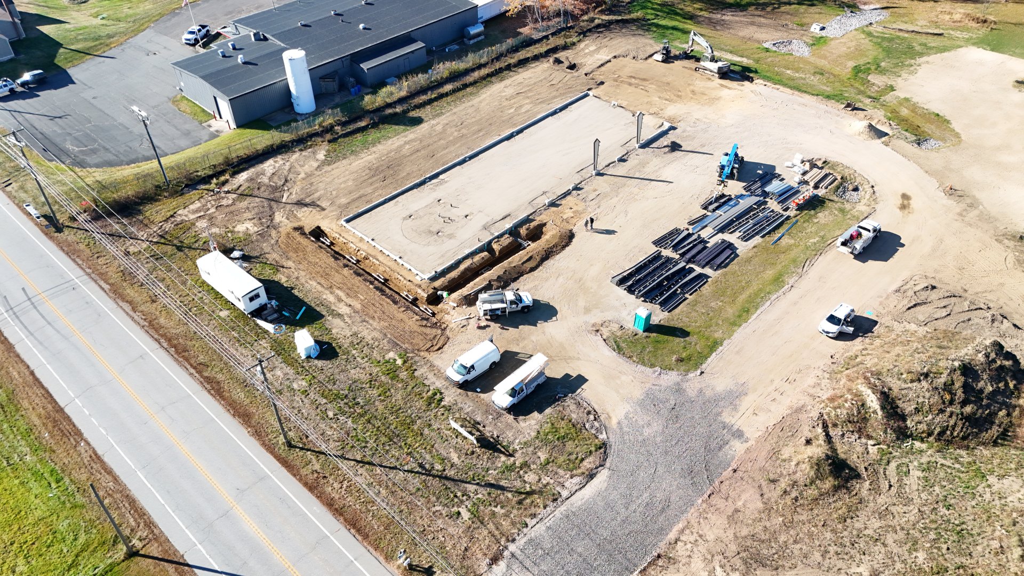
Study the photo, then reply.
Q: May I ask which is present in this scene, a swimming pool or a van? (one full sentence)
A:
Of the two, only a van appears.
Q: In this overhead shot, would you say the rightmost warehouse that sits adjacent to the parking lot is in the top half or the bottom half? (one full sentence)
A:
The top half of the photo is where the rightmost warehouse that sits adjacent to the parking lot is.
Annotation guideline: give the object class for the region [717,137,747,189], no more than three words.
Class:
work vehicle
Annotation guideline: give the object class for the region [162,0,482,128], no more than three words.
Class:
warehouse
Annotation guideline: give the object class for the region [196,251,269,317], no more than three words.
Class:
trailer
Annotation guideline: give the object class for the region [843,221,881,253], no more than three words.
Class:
truck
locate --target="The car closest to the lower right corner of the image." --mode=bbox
[821,299,859,337]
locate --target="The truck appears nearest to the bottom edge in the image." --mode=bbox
[490,361,547,413]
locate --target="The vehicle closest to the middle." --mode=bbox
[476,287,536,320]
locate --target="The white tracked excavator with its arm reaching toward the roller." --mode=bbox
[687,25,729,78]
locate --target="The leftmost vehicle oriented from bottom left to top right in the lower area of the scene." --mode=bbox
[445,332,504,388]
